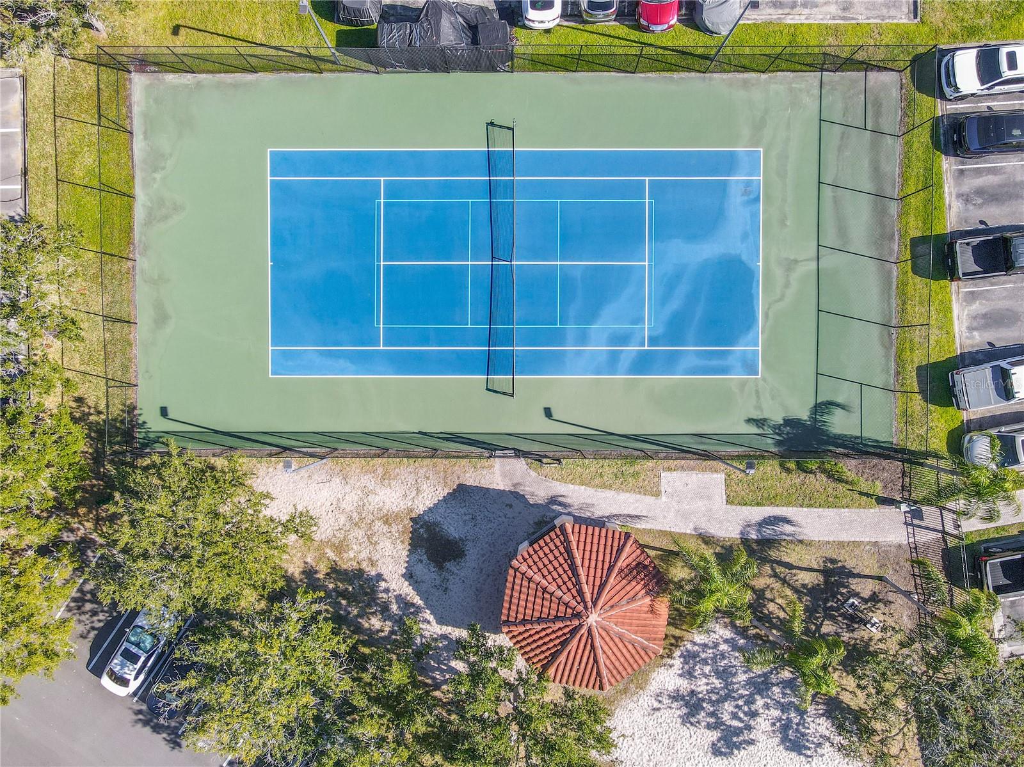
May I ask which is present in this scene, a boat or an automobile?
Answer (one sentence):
It is an automobile that can be seen here.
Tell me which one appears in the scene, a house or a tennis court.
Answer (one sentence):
The one in the frame is a tennis court.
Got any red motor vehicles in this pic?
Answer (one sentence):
Yes, I can see a red motor vehicle in this picture.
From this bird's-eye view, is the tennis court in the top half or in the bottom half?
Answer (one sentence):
You can find the tennis court in the top half.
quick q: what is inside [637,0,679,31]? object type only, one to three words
car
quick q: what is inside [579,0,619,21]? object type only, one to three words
car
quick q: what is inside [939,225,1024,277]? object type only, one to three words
truck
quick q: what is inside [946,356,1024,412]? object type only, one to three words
truck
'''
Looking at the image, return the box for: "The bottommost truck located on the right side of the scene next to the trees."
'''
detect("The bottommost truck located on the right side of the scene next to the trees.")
[973,544,1024,598]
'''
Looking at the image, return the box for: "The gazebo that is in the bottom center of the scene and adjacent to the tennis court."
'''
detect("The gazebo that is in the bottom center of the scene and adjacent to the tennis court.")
[499,514,672,693]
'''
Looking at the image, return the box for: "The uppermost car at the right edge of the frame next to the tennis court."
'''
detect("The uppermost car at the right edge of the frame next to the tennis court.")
[939,41,1024,97]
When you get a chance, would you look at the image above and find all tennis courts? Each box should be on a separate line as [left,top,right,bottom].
[130,69,903,455]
